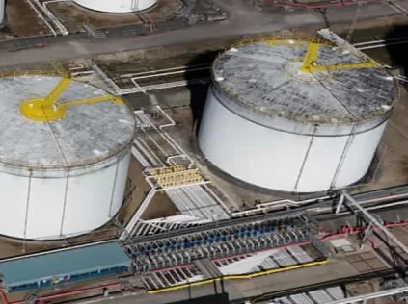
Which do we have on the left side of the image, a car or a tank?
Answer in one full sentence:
There is a tank on the left side of the image.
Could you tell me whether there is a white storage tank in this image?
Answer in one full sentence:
Yes, a white storage tank appears in the view.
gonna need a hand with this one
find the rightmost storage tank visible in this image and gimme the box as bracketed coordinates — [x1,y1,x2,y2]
[195,35,400,194]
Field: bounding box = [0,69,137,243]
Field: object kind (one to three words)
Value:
storage tank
